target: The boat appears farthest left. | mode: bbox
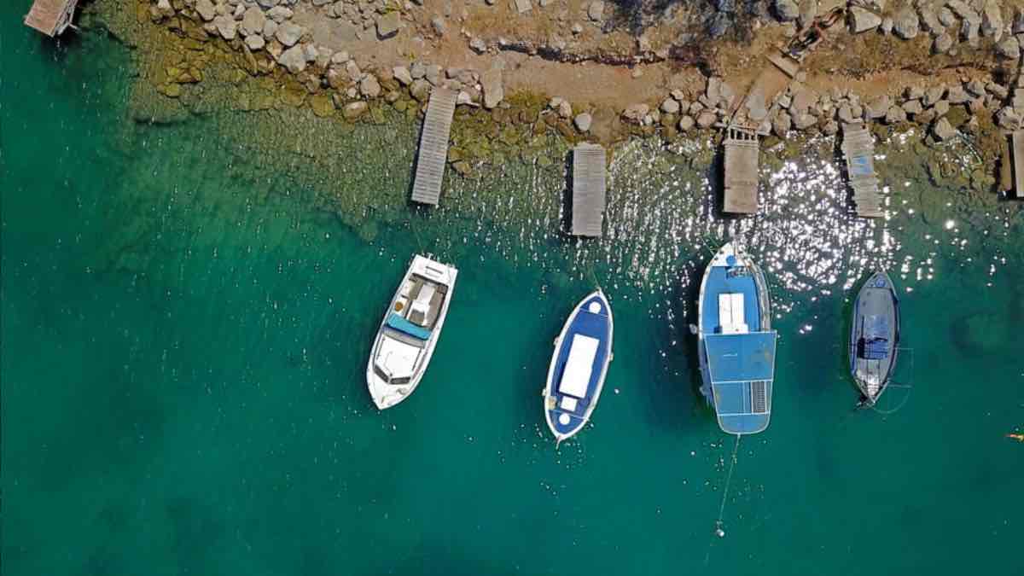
[366,253,459,411]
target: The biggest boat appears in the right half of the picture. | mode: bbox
[696,239,777,434]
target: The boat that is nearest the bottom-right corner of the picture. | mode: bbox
[847,271,900,409]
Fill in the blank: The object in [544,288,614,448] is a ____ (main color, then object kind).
white boat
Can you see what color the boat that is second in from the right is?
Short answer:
blue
